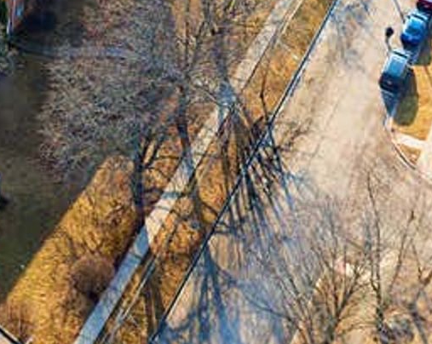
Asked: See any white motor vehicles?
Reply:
No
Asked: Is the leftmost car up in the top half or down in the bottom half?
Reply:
top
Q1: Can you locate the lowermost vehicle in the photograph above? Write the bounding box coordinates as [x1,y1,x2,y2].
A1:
[380,45,412,90]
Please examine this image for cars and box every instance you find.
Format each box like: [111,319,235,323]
[401,9,430,44]
[412,0,432,12]
[380,45,412,90]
